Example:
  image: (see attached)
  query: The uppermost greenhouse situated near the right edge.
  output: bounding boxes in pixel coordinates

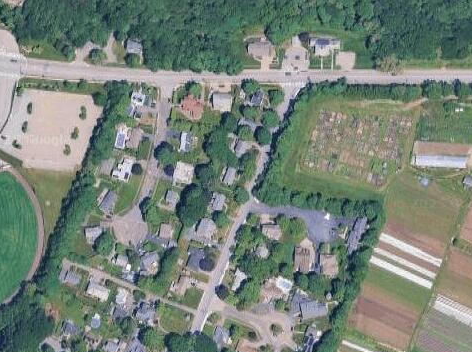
[413,155,467,168]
